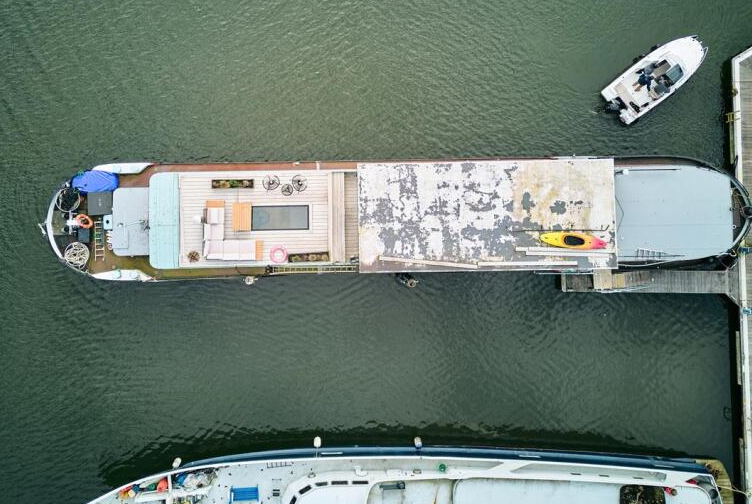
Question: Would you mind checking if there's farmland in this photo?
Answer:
No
